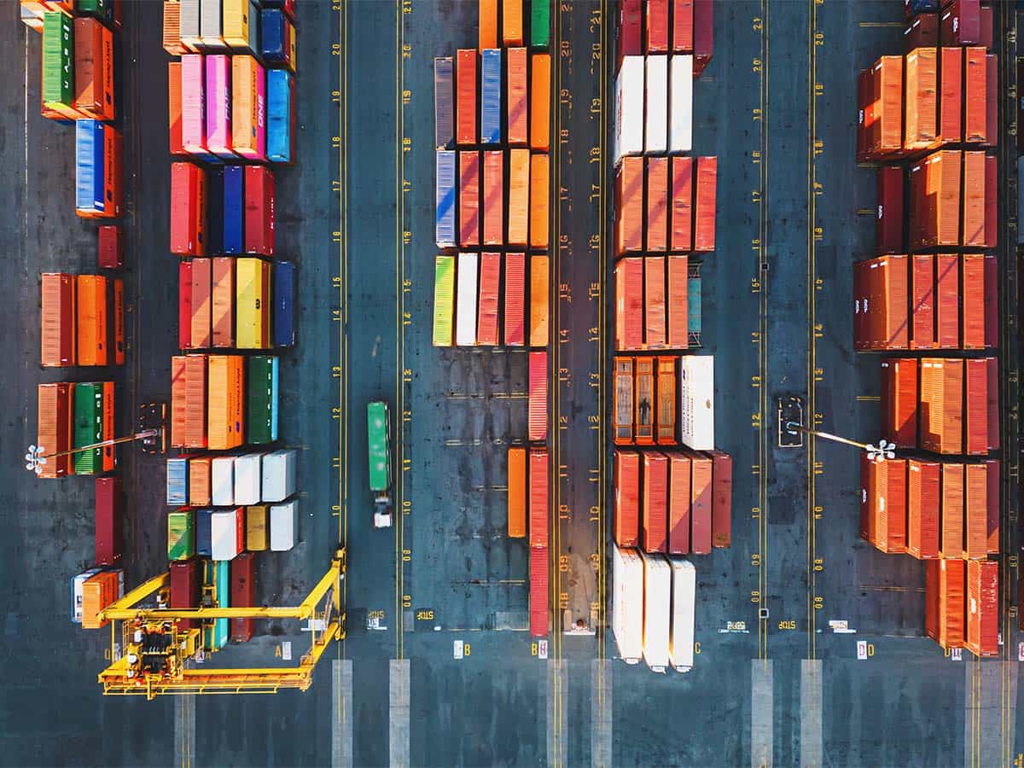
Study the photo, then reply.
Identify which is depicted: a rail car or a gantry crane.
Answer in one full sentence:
Visible in the photo is a gantry crane.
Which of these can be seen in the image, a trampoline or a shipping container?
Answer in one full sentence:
The image shows a shipping container.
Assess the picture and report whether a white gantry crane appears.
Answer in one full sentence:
No, the picture doesn't show any white gantry crane.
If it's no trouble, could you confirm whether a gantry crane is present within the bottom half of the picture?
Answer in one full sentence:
Yes, looking within the bottom half of the picture, one can make out a gantry crane.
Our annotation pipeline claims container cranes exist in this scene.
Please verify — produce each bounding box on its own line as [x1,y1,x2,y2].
[100,550,345,706]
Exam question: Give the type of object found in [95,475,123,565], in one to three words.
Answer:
shipping container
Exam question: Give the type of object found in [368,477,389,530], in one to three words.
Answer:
truck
